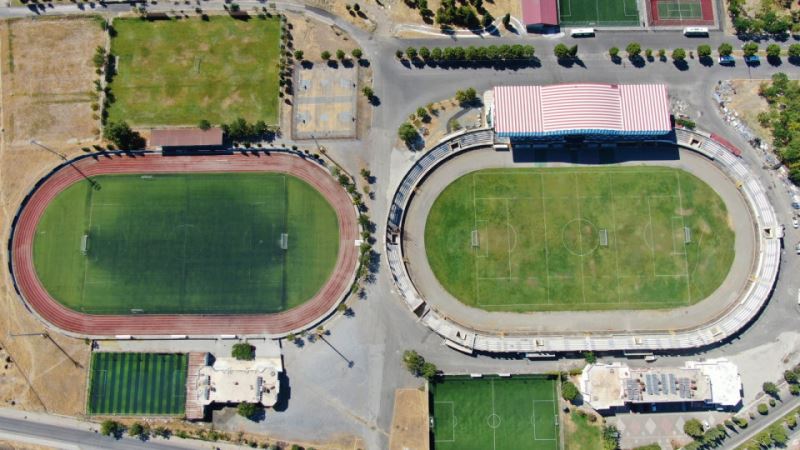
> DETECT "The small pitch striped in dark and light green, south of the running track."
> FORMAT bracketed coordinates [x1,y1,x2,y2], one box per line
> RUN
[89,352,188,414]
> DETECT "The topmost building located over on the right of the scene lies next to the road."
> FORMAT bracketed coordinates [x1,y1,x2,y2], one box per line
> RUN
[521,0,559,28]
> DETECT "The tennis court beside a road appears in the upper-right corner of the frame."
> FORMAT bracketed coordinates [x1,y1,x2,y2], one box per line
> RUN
[646,0,716,25]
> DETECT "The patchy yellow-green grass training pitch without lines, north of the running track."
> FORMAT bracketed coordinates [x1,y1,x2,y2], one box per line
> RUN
[106,16,280,124]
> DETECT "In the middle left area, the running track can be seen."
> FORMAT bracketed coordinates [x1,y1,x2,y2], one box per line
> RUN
[9,151,363,338]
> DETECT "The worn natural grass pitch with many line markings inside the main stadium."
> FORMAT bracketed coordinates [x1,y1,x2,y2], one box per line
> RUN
[425,166,735,312]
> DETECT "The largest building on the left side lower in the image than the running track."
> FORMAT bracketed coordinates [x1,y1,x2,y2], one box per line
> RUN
[197,356,287,405]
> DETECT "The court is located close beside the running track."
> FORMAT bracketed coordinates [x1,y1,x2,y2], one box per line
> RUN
[293,66,356,138]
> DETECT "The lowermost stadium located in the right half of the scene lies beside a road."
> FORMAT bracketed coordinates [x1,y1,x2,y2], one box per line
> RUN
[385,126,784,352]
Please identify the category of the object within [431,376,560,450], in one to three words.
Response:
soccer field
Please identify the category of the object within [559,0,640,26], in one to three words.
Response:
soccer field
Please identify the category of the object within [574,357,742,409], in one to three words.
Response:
building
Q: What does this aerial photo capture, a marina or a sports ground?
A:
sports ground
